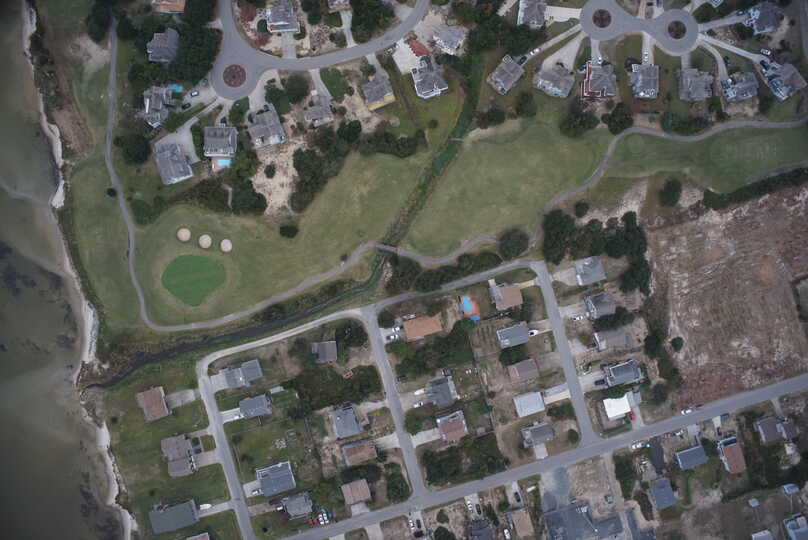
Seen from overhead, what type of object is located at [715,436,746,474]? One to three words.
house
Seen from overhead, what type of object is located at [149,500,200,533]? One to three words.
house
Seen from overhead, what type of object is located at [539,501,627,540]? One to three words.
building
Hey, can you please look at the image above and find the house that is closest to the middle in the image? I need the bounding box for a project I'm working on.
[404,313,442,339]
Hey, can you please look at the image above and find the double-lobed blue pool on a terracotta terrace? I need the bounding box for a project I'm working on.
[462,295,480,317]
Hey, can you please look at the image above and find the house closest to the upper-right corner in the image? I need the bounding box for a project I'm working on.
[744,2,784,39]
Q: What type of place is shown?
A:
residential area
